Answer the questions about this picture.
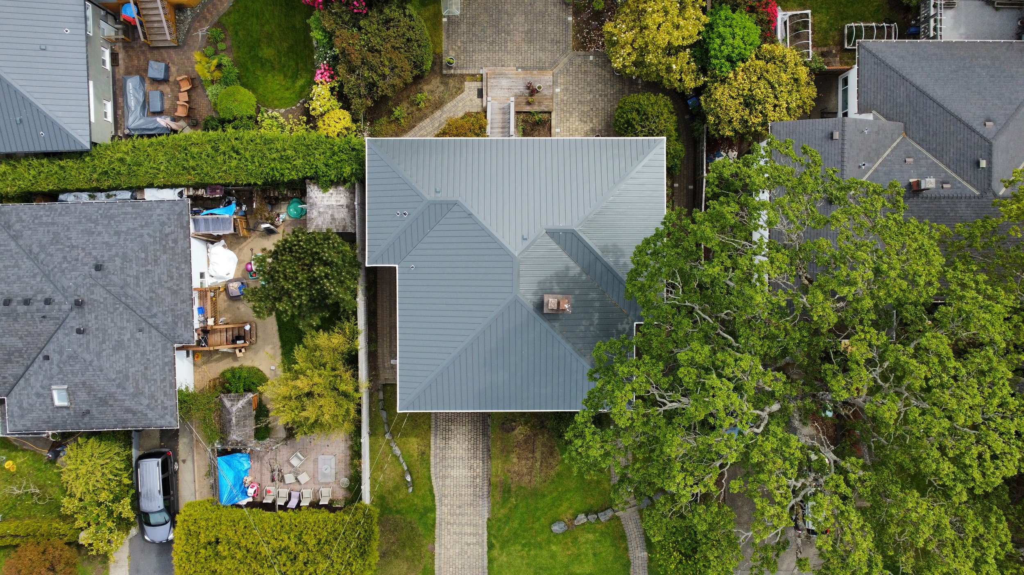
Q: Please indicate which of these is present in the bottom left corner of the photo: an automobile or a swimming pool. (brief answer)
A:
automobile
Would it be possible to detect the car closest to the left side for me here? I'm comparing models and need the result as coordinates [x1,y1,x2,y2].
[134,446,184,544]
